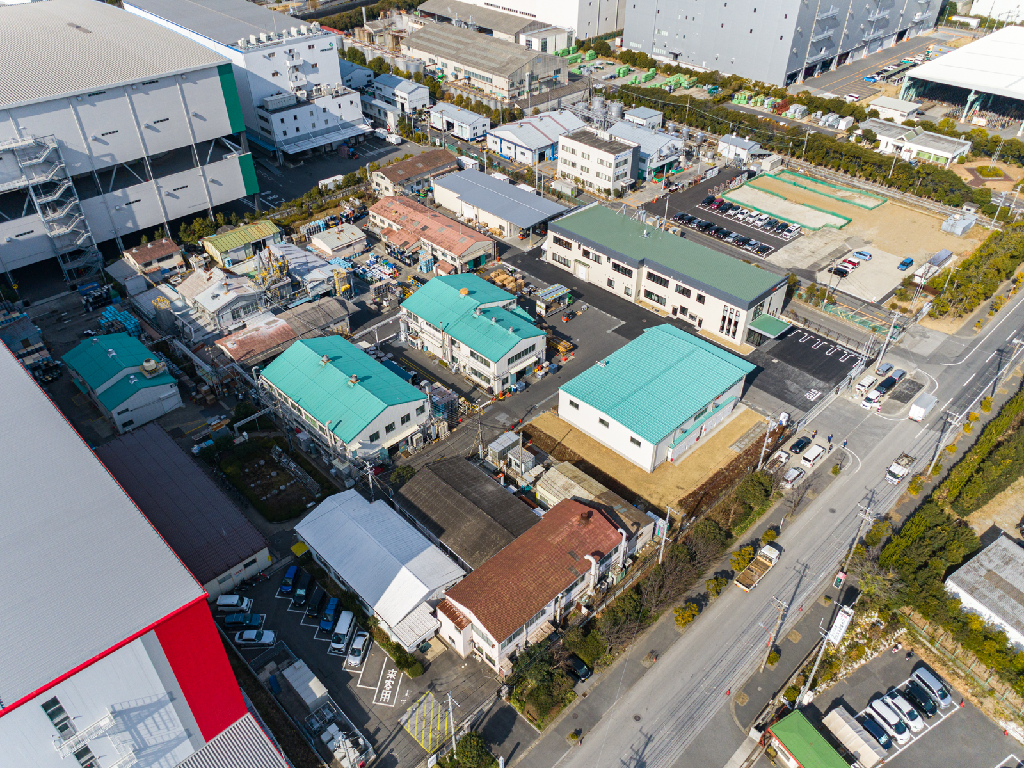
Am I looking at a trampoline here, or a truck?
truck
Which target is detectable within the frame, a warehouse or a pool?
warehouse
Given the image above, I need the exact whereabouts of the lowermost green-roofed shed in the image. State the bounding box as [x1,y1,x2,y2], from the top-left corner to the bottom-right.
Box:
[763,706,857,768]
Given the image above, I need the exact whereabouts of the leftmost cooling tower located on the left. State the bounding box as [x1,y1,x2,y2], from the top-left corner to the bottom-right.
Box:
[139,354,157,371]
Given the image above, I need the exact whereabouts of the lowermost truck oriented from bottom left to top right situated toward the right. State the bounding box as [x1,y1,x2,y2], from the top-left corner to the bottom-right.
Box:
[728,541,784,596]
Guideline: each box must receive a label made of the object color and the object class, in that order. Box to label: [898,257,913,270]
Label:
blue vehicle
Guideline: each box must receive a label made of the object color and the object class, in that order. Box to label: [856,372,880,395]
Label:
white car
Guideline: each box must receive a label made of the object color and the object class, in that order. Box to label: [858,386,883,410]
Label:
white car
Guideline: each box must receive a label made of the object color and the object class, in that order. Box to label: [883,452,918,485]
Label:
white truck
